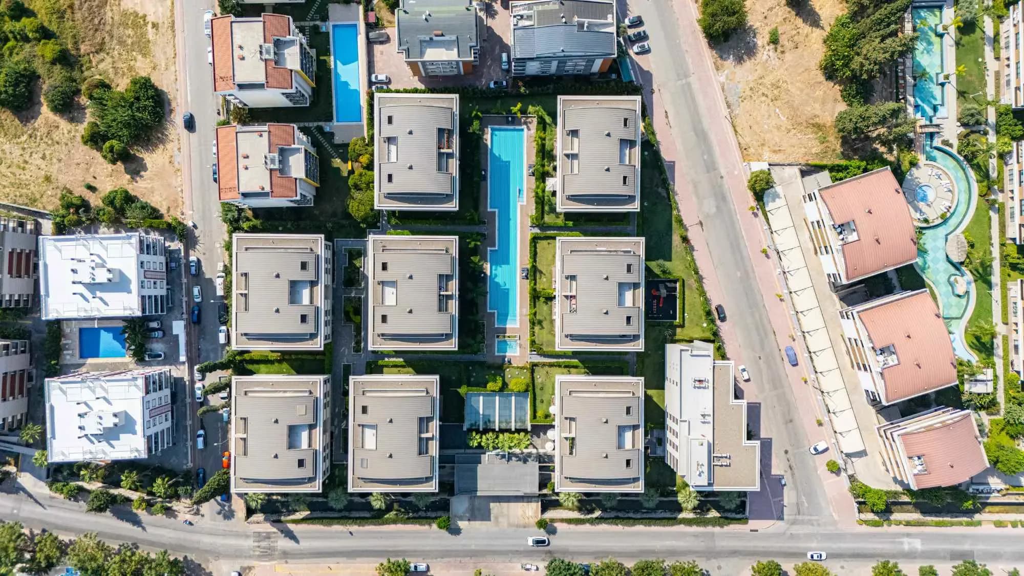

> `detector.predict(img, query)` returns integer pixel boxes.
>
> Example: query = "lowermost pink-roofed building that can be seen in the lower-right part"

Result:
[876,403,991,490]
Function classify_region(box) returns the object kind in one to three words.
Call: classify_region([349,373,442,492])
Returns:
building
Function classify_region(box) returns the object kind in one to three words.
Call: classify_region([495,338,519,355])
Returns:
swimming pool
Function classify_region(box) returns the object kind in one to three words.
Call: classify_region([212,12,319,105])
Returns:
house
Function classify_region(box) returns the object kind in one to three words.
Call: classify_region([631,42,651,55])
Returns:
vehicle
